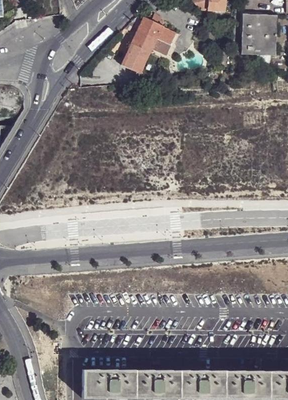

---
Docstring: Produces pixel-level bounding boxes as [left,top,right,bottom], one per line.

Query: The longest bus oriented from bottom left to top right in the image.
[88,28,113,52]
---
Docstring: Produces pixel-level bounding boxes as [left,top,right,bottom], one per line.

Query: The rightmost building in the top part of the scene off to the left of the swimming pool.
[122,14,178,72]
